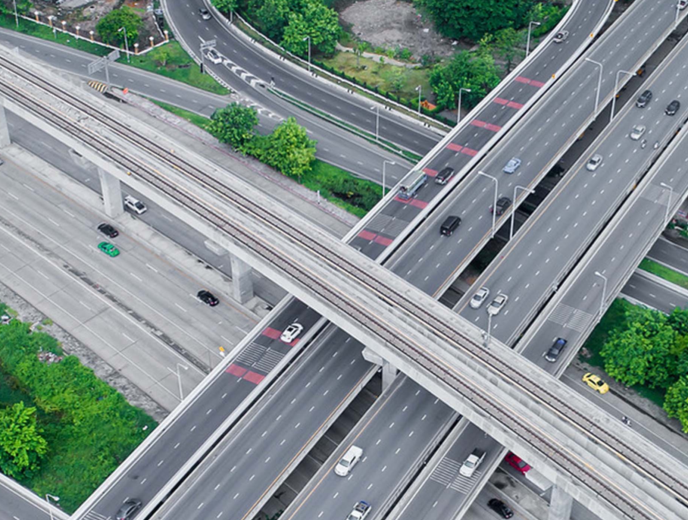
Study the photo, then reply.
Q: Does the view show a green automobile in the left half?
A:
Yes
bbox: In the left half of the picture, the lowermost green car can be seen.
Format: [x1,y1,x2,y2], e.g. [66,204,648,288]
[97,241,120,258]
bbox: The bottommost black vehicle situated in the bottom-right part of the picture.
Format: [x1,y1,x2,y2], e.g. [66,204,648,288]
[485,497,517,520]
